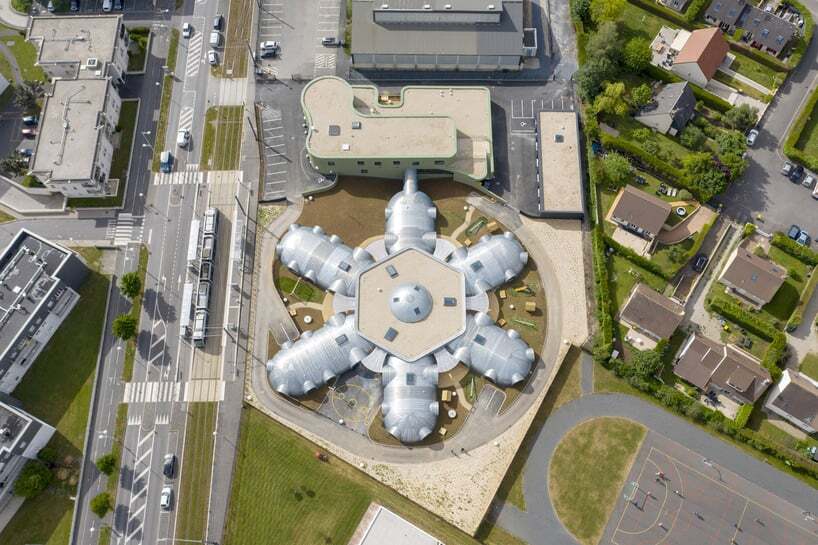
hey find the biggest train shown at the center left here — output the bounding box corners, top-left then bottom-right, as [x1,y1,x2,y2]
[193,209,220,346]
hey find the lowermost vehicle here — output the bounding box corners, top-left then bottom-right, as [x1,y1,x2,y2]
[159,486,173,510]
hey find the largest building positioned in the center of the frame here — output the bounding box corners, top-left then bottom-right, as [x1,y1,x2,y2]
[263,167,537,446]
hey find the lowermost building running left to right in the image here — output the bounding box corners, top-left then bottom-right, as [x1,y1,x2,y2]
[357,505,448,545]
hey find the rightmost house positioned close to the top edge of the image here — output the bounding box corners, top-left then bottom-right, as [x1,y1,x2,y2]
[728,0,799,54]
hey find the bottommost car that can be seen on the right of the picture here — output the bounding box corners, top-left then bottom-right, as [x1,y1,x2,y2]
[693,253,709,273]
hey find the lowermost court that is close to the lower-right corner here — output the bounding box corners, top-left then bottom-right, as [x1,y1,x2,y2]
[602,430,818,545]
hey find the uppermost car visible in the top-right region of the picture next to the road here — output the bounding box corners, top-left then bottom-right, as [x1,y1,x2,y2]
[746,129,759,145]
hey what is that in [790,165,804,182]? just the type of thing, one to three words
car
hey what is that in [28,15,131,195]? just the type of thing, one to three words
building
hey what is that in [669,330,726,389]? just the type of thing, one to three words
house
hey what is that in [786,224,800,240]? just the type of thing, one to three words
vehicle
